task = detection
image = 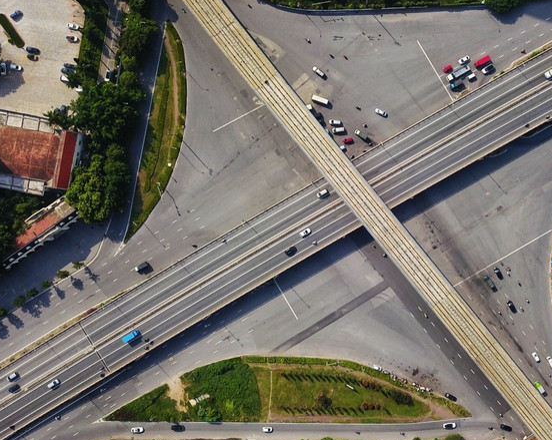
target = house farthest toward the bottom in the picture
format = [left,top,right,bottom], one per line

[2,197,90,272]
